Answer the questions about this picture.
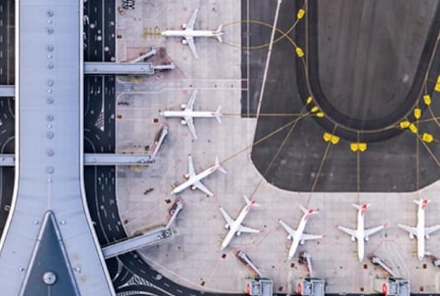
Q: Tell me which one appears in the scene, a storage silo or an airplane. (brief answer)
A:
airplane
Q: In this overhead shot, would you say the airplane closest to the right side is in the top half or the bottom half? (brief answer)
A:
bottom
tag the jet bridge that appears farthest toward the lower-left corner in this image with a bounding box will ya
[165,201,182,230]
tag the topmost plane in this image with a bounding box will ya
[160,6,224,59]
